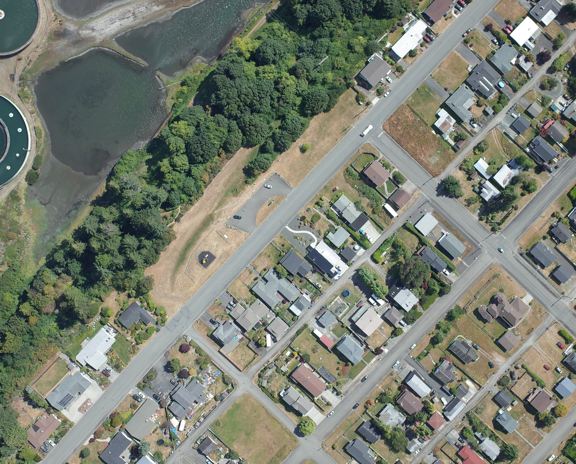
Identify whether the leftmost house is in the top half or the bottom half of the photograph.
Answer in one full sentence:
Seen from above, the leftmost house lies in the bottom half of the view.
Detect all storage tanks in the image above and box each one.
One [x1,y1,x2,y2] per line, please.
[0,0,44,58]
[0,93,33,188]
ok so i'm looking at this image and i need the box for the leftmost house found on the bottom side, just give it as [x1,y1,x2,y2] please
[27,413,62,448]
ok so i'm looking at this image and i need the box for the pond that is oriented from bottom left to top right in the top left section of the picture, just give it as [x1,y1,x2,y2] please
[42,0,255,174]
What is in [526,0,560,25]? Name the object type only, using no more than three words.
house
